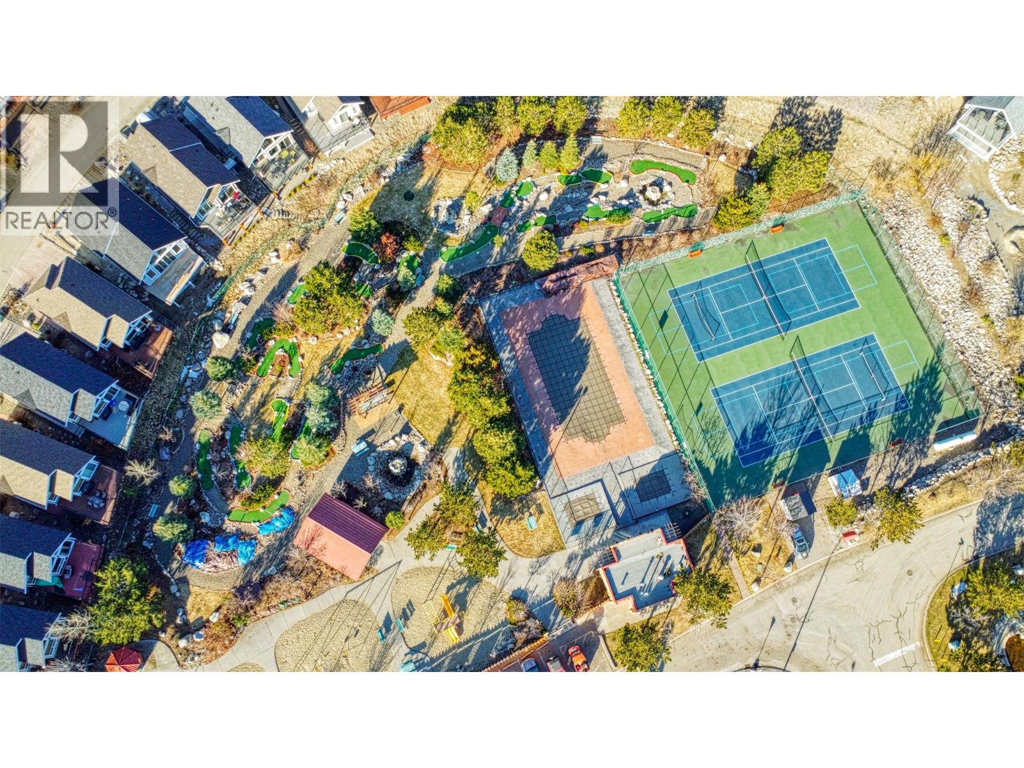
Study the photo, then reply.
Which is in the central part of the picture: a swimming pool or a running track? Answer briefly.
swimming pool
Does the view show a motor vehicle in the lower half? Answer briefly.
Yes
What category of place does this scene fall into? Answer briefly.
residential area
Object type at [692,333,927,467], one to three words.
tennis court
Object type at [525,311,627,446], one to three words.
swimming pool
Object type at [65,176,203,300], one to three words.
house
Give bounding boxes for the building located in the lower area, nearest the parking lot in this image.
[595,522,690,610]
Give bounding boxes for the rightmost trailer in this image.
[818,464,868,505]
